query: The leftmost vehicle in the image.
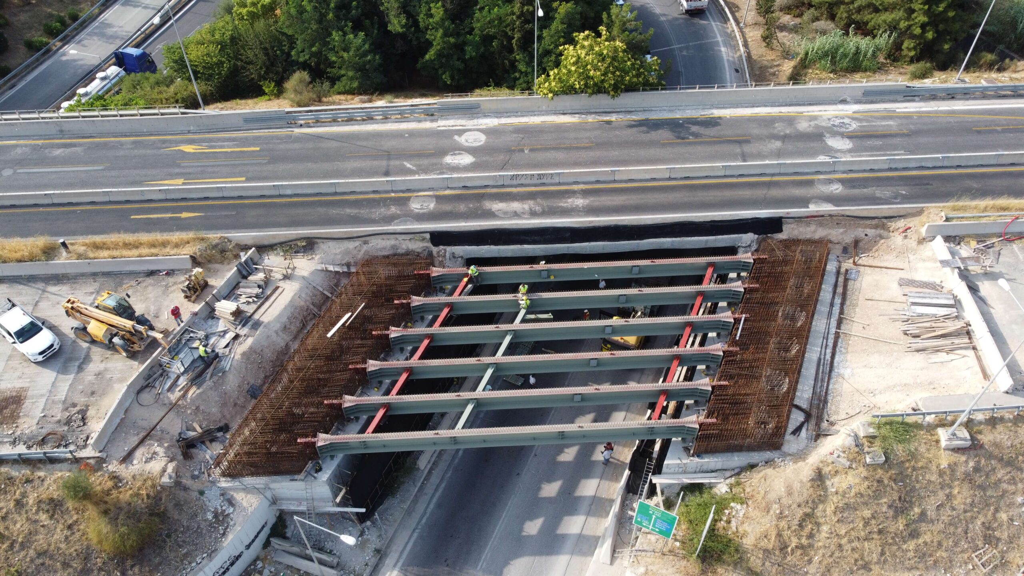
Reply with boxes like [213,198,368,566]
[0,299,58,365]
